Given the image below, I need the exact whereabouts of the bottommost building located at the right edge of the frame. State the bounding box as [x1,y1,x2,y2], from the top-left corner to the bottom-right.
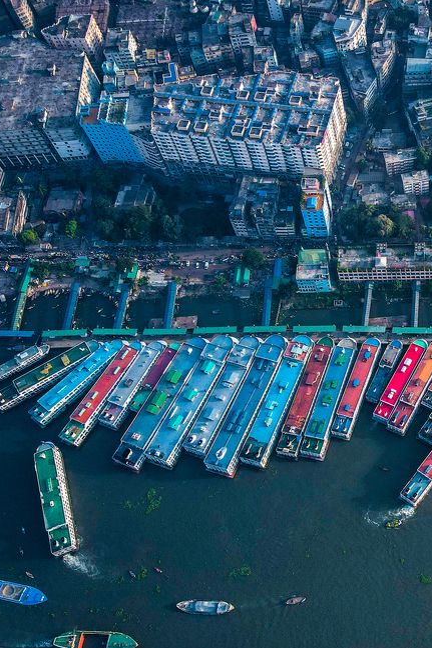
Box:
[337,245,432,281]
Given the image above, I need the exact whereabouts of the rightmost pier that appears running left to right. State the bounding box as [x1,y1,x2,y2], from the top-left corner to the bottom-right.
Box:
[388,326,432,347]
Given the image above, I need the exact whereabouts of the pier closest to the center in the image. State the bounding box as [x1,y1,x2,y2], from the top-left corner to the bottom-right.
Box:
[192,326,241,347]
